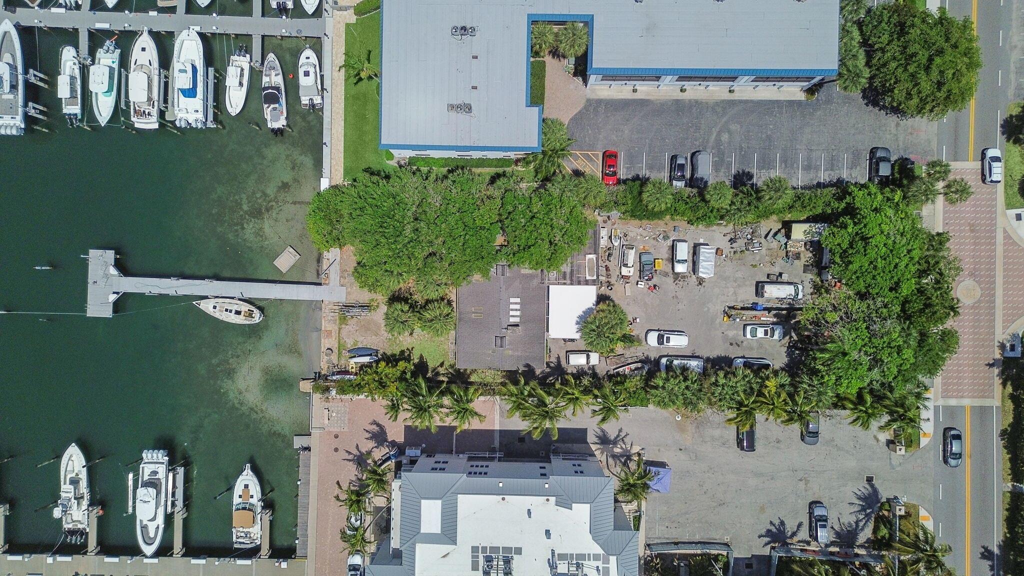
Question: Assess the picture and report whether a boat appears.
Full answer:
Yes, looking at the shot, I can spot a boat.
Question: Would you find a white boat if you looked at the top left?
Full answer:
Yes, a white boat appears at the top left.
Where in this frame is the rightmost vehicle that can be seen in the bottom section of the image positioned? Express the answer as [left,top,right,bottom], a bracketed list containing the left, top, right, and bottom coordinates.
[941,426,963,467]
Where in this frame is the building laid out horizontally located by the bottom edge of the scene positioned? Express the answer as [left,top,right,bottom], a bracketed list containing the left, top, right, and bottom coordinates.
[364,449,640,576]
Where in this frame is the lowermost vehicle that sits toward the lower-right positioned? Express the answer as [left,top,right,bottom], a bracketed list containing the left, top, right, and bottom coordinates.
[807,500,830,544]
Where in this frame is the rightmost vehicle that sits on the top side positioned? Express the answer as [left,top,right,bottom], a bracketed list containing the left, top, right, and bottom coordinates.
[979,148,1003,187]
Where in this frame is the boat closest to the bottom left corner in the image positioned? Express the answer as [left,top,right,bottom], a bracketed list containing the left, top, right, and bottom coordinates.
[53,444,93,539]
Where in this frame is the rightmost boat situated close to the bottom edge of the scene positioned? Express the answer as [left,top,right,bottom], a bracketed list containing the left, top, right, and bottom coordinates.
[232,464,262,548]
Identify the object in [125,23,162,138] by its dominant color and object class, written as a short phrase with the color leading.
white boat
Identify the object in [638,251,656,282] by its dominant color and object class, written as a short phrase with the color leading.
gray vehicle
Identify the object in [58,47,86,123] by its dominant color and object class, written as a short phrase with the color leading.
white boat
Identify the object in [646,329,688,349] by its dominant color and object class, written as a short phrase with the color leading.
white car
